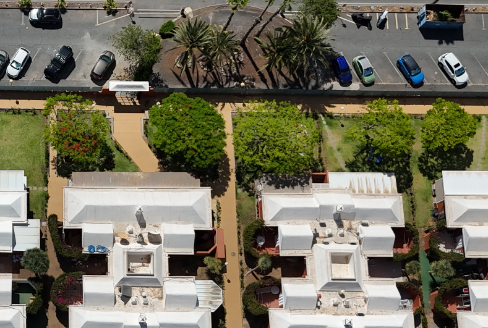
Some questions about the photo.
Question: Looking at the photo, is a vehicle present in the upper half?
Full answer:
Yes, a vehicle is visible in the upper half.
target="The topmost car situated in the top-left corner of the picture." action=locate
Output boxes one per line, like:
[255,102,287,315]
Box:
[29,7,61,24]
